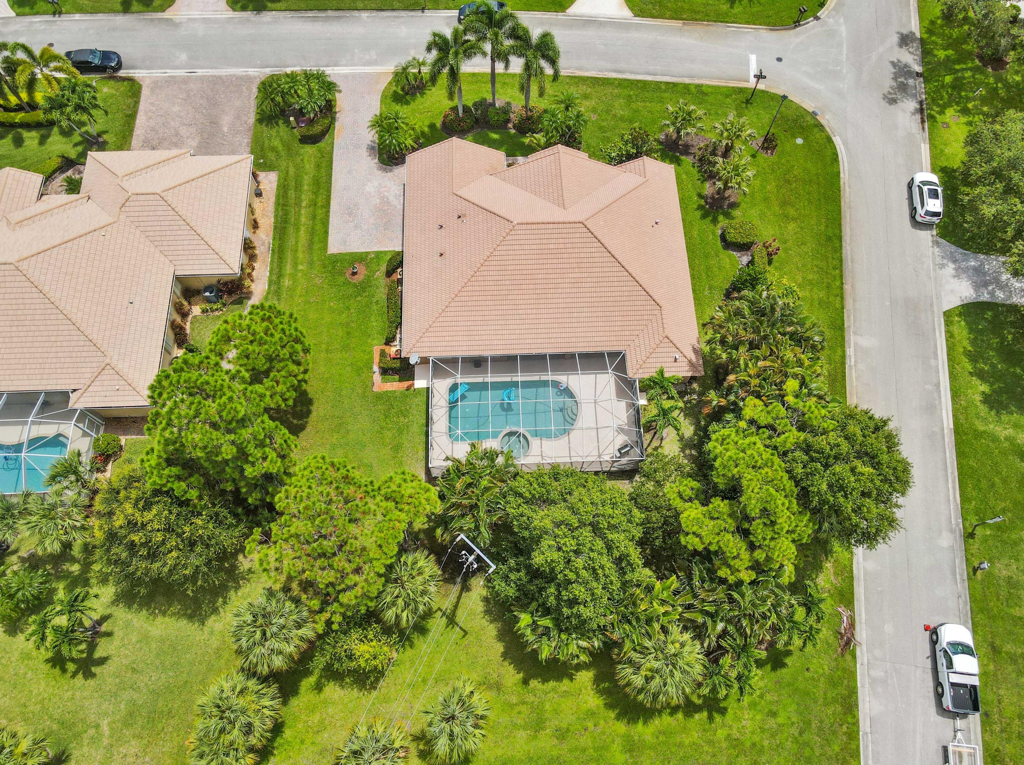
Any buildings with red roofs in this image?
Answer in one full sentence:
No, this view has no building with a red roof in it.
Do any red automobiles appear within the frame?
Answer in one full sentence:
No, I can't see a single red automobile in this photo.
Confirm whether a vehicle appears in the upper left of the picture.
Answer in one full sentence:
Yes, a vehicle can be seen in the upper left of the picture.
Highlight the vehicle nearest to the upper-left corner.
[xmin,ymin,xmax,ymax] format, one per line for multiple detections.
[63,48,124,77]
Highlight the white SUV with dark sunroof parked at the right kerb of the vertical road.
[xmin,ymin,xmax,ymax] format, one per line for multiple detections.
[908,175,944,229]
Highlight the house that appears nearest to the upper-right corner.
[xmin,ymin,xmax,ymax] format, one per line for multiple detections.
[401,132,706,384]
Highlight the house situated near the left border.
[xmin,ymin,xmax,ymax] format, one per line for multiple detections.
[0,148,257,414]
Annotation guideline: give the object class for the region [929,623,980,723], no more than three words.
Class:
truck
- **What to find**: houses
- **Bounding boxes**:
[401,132,706,384]
[0,148,257,414]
